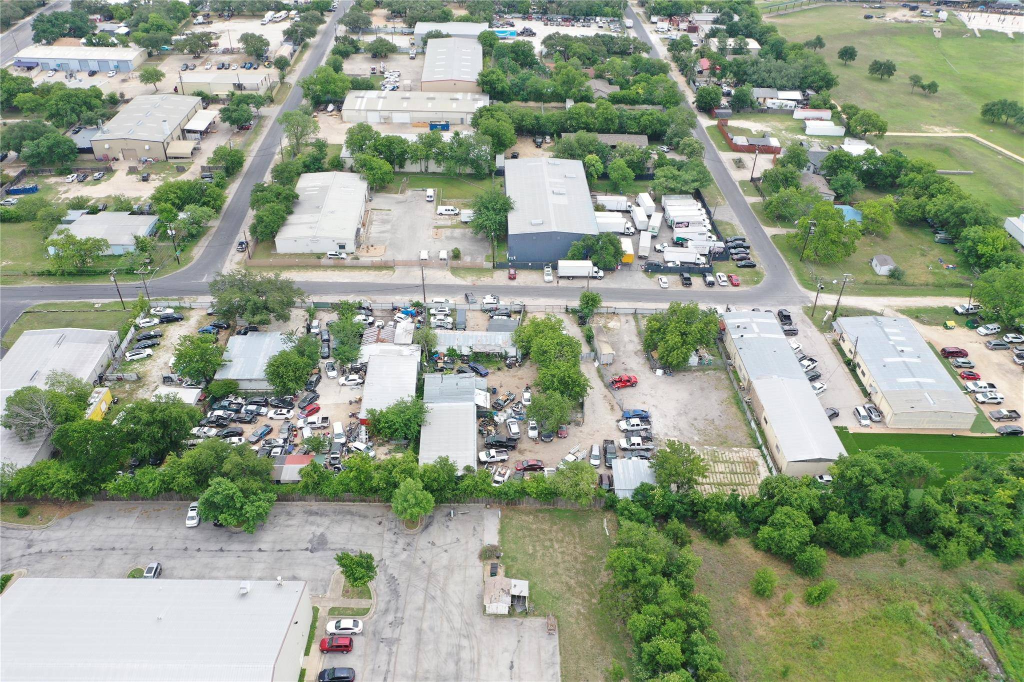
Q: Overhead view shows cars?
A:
Yes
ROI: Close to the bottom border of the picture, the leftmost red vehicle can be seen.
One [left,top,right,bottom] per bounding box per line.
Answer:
[316,635,356,655]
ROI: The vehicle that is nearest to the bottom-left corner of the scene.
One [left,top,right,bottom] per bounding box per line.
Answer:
[140,555,169,579]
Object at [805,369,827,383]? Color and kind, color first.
gray car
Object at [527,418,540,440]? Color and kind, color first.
white vehicle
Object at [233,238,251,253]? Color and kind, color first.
gray vehicle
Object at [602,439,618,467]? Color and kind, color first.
gray vehicle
